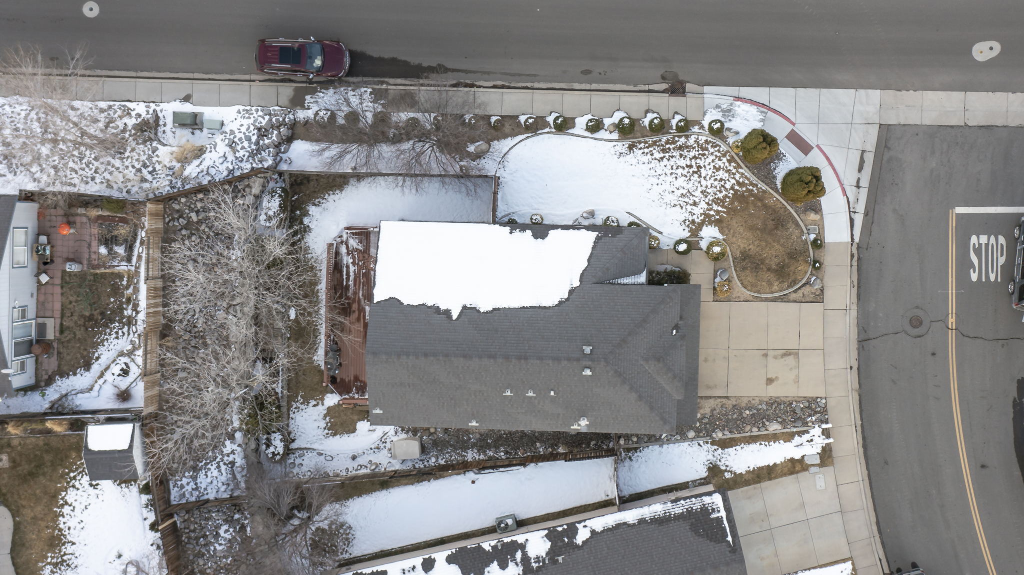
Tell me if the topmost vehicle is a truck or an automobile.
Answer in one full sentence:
I'd say the topmost vehicle is an automobile.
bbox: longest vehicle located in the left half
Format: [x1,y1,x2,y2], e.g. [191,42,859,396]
[254,34,351,83]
